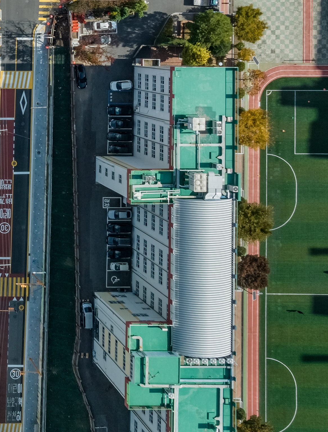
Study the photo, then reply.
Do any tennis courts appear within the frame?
No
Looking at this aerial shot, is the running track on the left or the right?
right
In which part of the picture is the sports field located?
right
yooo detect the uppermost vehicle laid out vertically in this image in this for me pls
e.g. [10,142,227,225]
[75,63,87,89]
